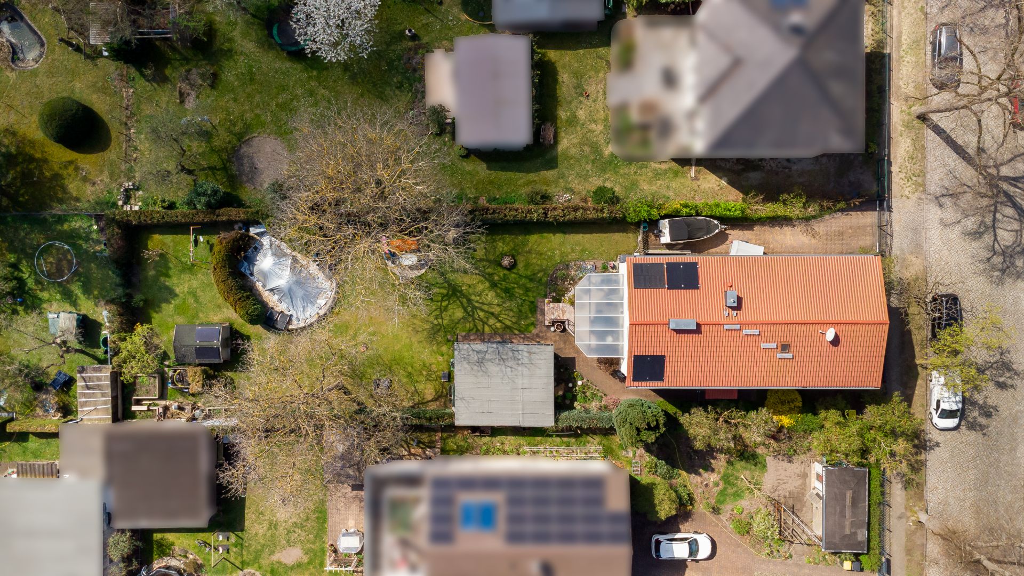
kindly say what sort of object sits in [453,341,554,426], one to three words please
building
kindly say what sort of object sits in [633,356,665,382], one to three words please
solar panel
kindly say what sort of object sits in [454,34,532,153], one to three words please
house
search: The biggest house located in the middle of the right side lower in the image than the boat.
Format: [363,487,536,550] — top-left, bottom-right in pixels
[618,253,891,400]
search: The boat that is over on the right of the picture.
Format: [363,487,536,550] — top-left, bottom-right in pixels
[653,218,722,243]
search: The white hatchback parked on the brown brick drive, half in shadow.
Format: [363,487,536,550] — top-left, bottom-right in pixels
[652,530,711,563]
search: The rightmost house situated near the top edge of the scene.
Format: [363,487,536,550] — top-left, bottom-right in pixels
[683,0,866,162]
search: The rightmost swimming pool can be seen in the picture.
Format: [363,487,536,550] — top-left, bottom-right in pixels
[238,228,338,334]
